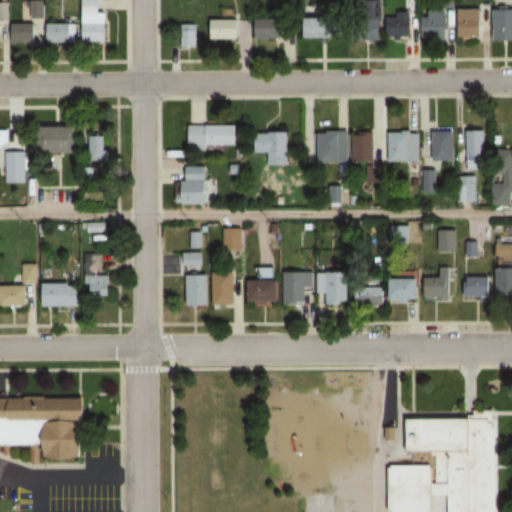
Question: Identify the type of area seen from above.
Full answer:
This image shows a residential area.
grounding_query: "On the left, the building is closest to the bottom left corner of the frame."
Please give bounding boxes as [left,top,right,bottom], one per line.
[0,396,80,463]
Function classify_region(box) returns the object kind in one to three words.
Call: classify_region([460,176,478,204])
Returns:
building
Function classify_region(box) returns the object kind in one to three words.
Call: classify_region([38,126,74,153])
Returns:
house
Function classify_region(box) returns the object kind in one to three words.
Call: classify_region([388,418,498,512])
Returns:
building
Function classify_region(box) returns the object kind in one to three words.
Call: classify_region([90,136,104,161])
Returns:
house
